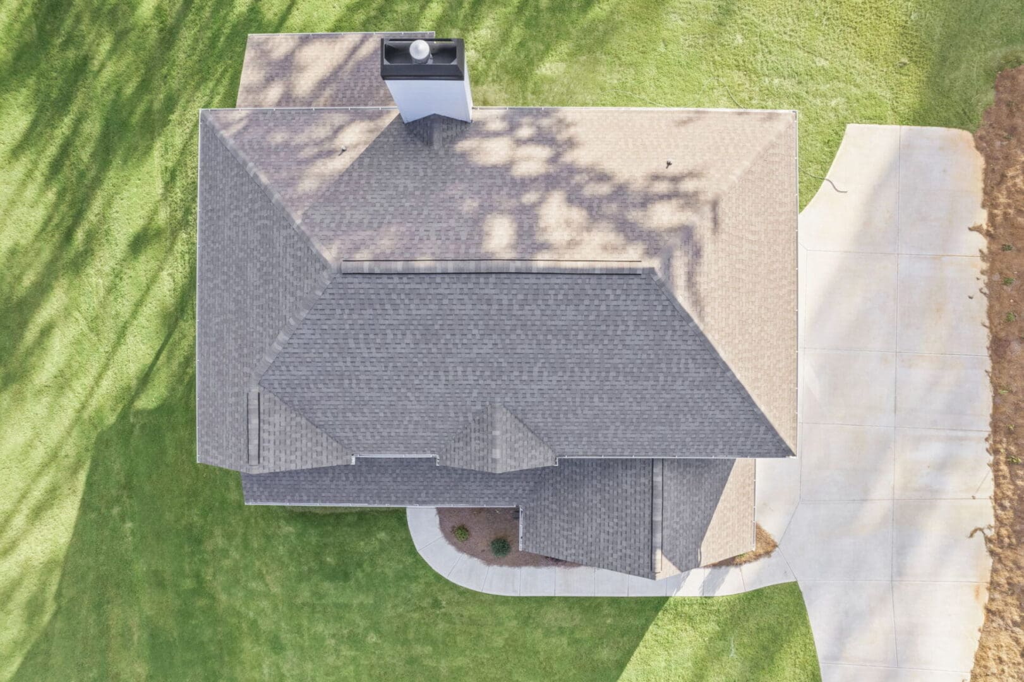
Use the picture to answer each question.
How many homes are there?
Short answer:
1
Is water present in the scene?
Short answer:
No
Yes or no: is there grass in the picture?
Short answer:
Yes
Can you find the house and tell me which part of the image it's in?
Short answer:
center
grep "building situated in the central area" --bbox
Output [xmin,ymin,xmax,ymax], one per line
[197,32,799,580]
